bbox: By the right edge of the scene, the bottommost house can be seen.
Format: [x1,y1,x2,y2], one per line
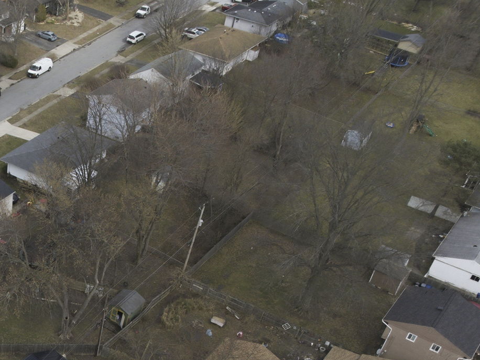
[373,288,480,360]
